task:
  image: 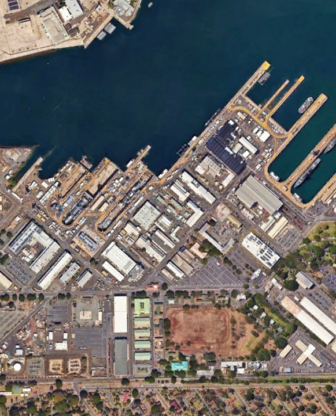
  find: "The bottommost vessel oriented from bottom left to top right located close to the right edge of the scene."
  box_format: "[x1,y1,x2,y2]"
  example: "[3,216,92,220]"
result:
[294,158,320,188]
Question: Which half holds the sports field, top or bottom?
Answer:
bottom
